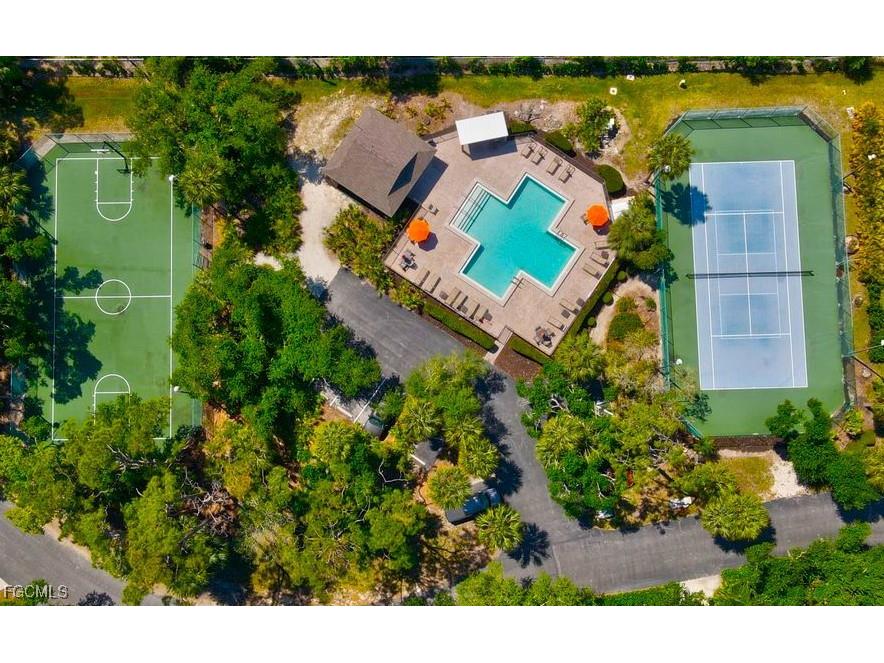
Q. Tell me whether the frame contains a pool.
Yes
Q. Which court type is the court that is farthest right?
tennis court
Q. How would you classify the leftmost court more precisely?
basketball court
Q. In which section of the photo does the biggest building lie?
top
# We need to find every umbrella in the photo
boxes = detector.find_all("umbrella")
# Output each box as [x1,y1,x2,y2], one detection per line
[406,221,431,246]
[589,206,613,230]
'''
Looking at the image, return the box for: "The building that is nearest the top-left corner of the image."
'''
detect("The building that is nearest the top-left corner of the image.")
[323,106,436,216]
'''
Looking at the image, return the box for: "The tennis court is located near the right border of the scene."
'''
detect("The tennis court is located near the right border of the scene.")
[659,117,846,437]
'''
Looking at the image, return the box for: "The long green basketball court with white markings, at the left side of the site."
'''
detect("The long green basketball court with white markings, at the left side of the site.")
[23,142,201,463]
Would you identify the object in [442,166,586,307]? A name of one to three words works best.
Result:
swimming pool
